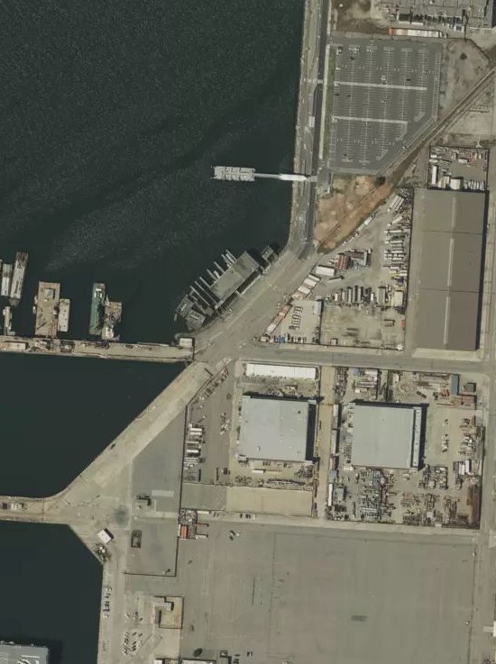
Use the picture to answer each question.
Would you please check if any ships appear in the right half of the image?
No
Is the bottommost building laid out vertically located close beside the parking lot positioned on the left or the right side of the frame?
right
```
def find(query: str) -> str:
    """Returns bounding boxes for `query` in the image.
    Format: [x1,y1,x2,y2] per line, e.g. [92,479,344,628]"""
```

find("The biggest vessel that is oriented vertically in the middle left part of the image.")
[34,281,60,337]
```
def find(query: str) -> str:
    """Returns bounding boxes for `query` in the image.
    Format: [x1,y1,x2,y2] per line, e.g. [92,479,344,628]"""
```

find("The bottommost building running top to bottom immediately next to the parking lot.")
[416,191,486,350]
